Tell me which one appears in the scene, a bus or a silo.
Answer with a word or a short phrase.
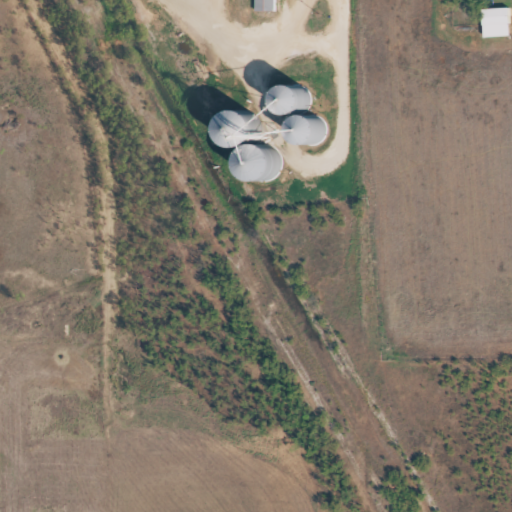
silo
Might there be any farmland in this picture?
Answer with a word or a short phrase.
Yes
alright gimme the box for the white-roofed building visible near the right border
[480,8,512,38]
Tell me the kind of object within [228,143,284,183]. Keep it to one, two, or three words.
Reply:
silo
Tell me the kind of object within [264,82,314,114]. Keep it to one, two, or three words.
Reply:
silo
